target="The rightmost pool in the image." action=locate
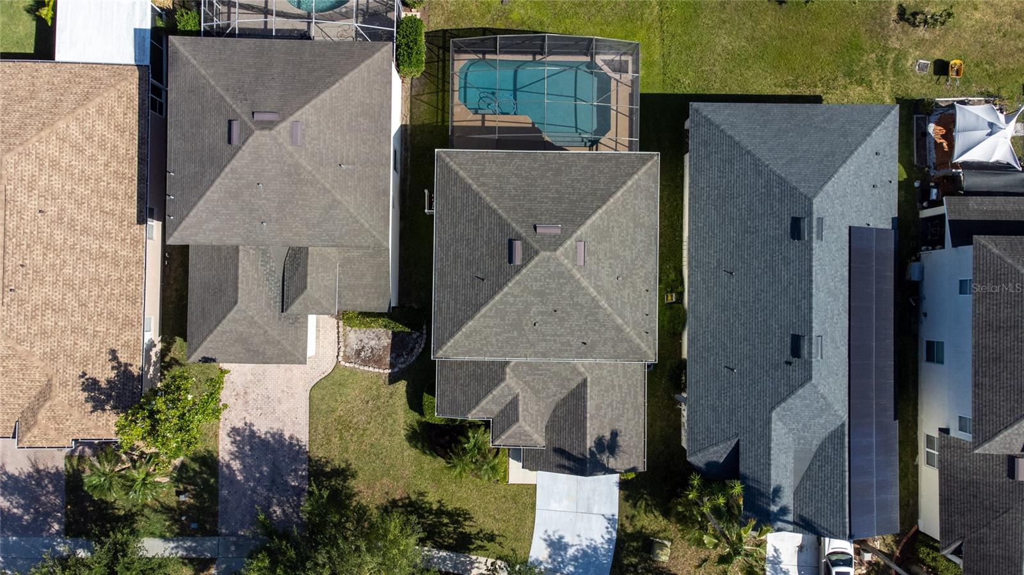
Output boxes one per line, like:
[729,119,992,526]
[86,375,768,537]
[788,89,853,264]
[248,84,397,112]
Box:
[455,57,616,150]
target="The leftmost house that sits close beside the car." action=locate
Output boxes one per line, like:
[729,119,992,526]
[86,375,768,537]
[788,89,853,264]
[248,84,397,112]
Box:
[682,101,900,540]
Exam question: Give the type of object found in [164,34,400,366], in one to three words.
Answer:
house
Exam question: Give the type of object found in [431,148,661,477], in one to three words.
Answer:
house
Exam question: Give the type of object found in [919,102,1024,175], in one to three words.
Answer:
tent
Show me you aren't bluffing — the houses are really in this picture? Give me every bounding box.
[164,34,400,366]
[682,101,900,540]
[919,193,1024,575]
[431,148,661,477]
[0,57,161,450]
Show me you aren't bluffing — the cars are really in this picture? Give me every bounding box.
[816,537,861,575]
